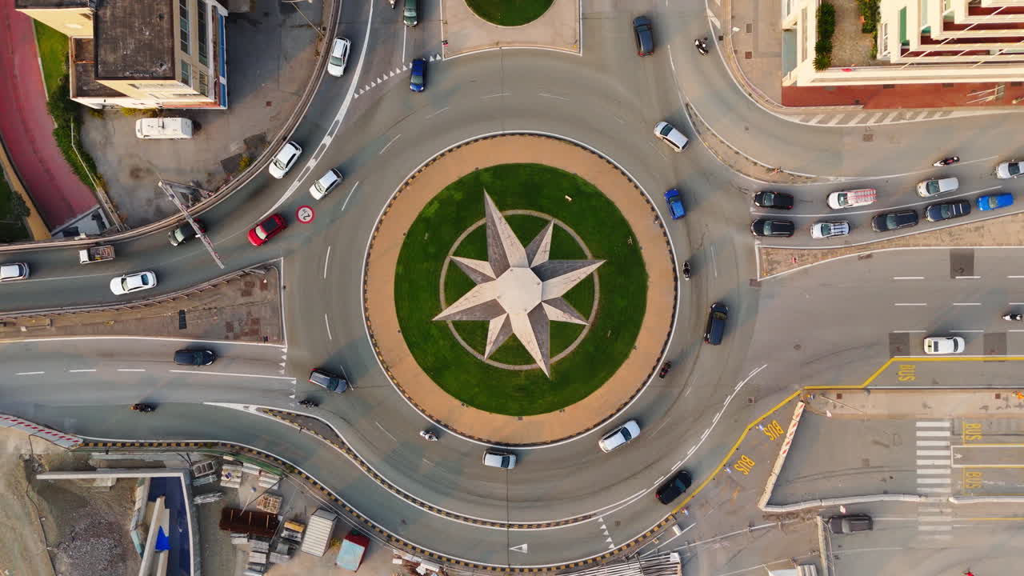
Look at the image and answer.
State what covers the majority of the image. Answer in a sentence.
The largest share of the image is taken up by paved ground.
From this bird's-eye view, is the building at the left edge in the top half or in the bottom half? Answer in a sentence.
The top half of the photo is where the building at the left edge is.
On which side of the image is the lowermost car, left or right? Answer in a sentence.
The lowermost car is on the right side of the image.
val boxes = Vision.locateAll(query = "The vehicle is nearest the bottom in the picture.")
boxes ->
[826,513,873,535]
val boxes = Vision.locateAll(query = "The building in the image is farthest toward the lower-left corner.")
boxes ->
[301,507,339,557]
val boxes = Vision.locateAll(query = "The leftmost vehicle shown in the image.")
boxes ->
[0,262,33,282]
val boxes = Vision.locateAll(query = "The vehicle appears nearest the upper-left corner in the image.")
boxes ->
[137,115,196,140]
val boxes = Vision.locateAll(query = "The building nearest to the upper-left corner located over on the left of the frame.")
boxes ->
[15,0,232,111]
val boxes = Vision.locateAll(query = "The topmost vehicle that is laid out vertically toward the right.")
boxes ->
[632,16,653,59]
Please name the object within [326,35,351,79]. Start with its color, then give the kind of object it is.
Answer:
white car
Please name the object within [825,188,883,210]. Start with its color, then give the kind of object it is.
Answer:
white vehicle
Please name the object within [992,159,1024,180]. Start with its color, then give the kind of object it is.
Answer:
white car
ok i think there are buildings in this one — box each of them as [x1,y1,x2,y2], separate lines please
[336,530,371,571]
[765,561,799,576]
[781,0,1024,91]
[15,0,232,111]
[301,507,339,557]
